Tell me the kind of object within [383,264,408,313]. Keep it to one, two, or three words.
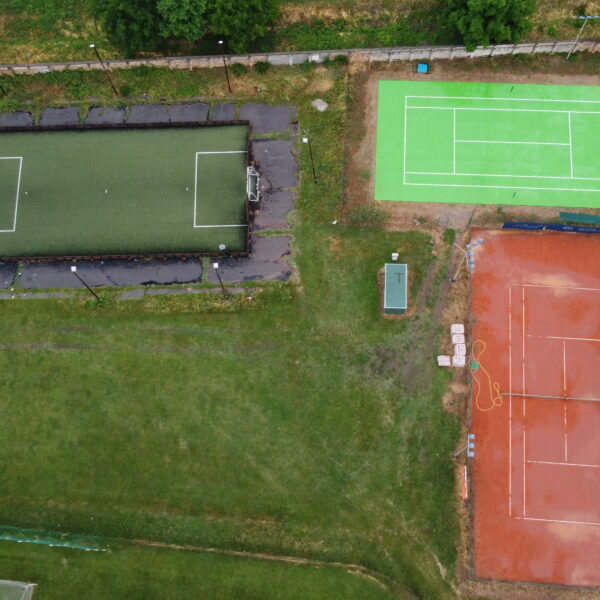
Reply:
shipping container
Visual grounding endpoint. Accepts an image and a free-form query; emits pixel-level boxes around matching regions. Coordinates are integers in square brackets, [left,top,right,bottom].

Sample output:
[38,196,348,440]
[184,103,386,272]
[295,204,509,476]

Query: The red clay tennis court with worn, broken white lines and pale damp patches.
[472,234,600,594]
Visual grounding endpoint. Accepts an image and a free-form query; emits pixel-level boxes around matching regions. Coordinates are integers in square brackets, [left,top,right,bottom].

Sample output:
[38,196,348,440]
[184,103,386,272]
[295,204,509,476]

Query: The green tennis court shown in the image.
[374,80,600,209]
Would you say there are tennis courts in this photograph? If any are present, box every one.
[374,80,600,209]
[472,234,600,594]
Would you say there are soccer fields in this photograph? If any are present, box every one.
[0,125,258,255]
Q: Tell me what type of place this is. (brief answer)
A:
sports ground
